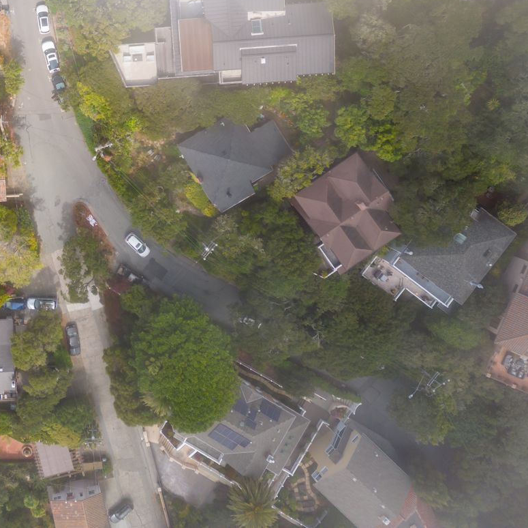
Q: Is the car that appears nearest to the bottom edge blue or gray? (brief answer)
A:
gray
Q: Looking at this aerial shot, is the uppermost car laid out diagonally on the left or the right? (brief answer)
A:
left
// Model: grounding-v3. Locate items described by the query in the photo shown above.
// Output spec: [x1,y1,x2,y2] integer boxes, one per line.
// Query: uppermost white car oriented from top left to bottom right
[123,231,151,259]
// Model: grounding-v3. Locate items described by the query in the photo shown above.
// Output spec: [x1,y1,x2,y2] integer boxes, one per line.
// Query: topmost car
[35,3,51,35]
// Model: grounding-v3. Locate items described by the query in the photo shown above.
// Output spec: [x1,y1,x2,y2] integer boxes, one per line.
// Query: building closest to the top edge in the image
[110,0,335,88]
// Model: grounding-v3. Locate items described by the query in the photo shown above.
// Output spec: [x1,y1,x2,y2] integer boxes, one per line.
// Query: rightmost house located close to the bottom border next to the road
[293,406,436,528]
